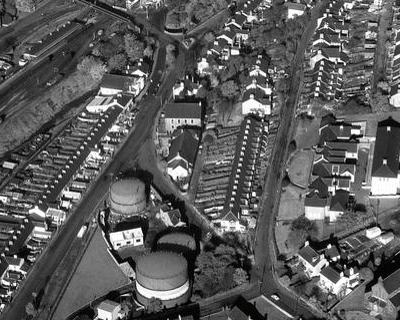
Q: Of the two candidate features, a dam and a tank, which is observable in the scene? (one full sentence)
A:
Visible in the photo is a tank.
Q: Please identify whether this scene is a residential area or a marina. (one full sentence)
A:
What you see here is a residential area.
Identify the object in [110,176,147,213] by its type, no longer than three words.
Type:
storage tank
